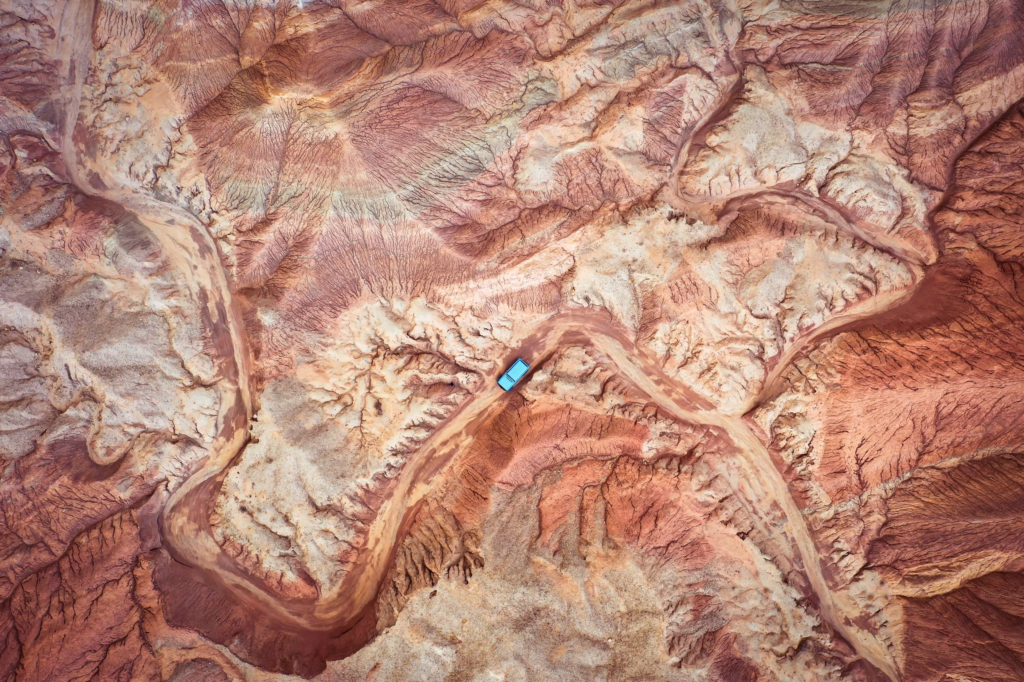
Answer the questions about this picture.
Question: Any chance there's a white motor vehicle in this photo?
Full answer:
No, the photo shows no white motor vehicle.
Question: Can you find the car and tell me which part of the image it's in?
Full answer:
The car is in the center part of the image.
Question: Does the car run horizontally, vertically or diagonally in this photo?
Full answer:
In this picture, the car is oriented diagonally.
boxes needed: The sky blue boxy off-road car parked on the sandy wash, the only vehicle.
[499,357,531,391]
